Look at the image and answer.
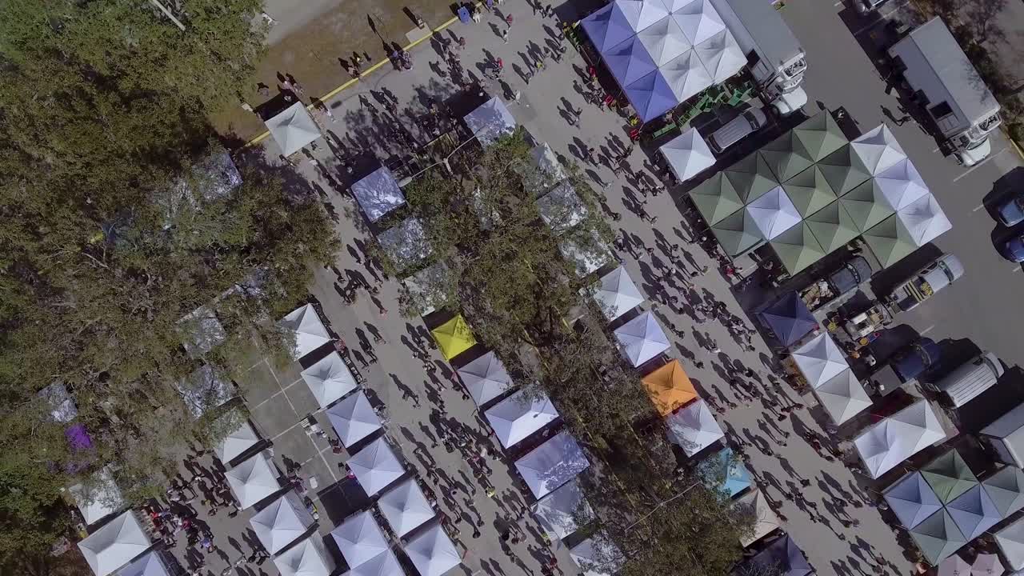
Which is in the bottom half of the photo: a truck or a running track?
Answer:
truck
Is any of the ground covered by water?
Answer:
No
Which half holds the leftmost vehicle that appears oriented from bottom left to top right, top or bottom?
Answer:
top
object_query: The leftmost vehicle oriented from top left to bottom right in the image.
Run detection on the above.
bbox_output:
[714,0,813,118]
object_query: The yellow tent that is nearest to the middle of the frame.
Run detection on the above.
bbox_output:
[431,313,477,359]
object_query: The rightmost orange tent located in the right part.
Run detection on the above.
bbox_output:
[640,358,698,416]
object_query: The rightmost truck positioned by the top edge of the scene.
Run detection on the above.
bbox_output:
[892,15,1002,167]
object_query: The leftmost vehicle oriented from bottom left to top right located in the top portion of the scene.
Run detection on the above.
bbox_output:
[704,108,765,156]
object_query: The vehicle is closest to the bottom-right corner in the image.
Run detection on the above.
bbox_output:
[975,389,1024,460]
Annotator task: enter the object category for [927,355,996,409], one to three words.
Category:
van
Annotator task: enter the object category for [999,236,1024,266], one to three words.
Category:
car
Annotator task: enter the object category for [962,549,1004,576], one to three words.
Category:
umbrella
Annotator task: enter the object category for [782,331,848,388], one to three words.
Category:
tent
